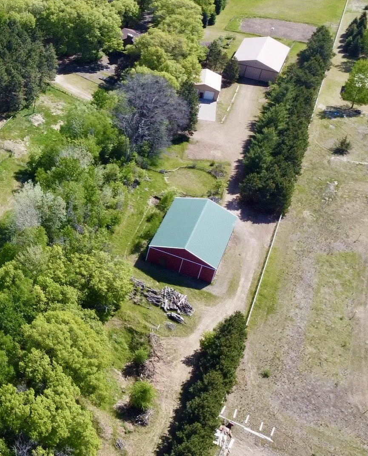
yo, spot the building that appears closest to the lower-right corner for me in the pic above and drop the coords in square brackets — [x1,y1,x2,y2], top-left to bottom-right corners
[146,197,239,284]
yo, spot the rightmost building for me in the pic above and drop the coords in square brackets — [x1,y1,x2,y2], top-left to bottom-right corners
[240,37,291,84]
